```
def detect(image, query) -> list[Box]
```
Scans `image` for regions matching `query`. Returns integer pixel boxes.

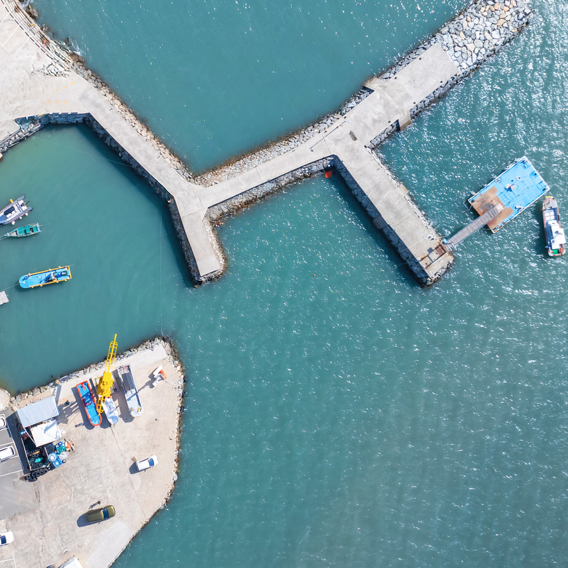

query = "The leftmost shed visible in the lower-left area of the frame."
[16,395,62,471]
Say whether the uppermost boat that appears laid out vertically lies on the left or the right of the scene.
right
